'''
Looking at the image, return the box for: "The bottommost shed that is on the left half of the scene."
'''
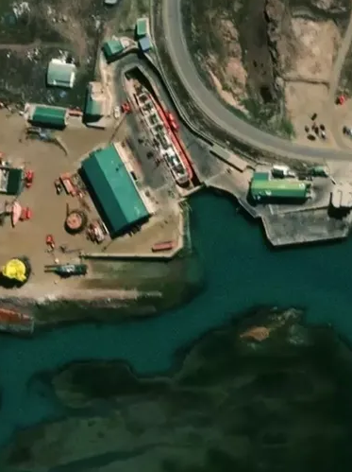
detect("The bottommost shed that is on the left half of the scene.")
[83,142,155,232]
